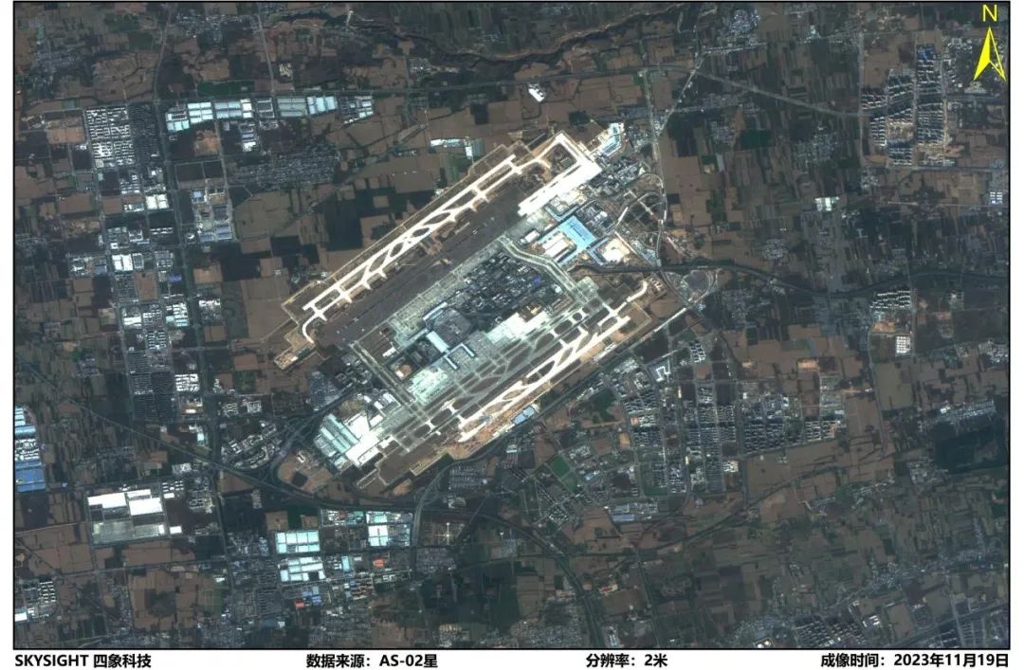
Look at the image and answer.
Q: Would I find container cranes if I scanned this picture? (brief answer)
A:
No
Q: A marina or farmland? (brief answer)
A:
farmland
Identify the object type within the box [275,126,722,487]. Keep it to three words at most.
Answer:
airport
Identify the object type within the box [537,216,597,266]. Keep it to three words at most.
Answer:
building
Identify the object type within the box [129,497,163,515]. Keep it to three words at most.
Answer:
building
